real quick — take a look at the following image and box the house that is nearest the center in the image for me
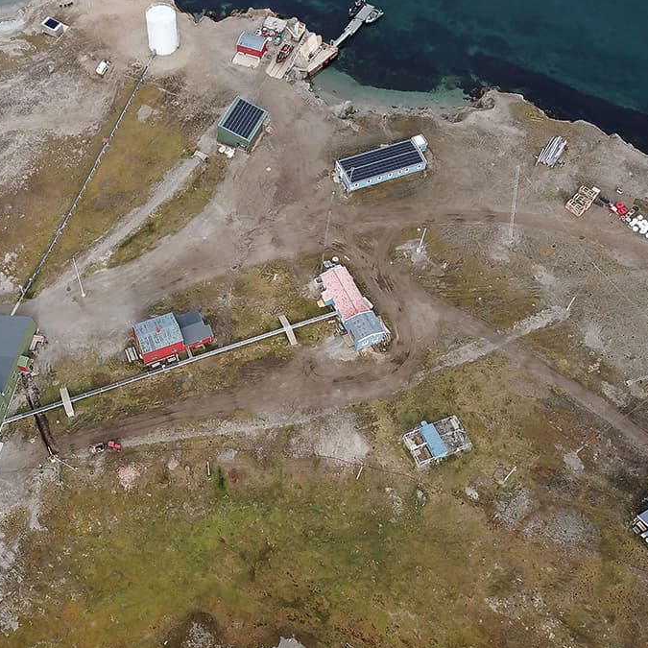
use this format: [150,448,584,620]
[315,262,386,351]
